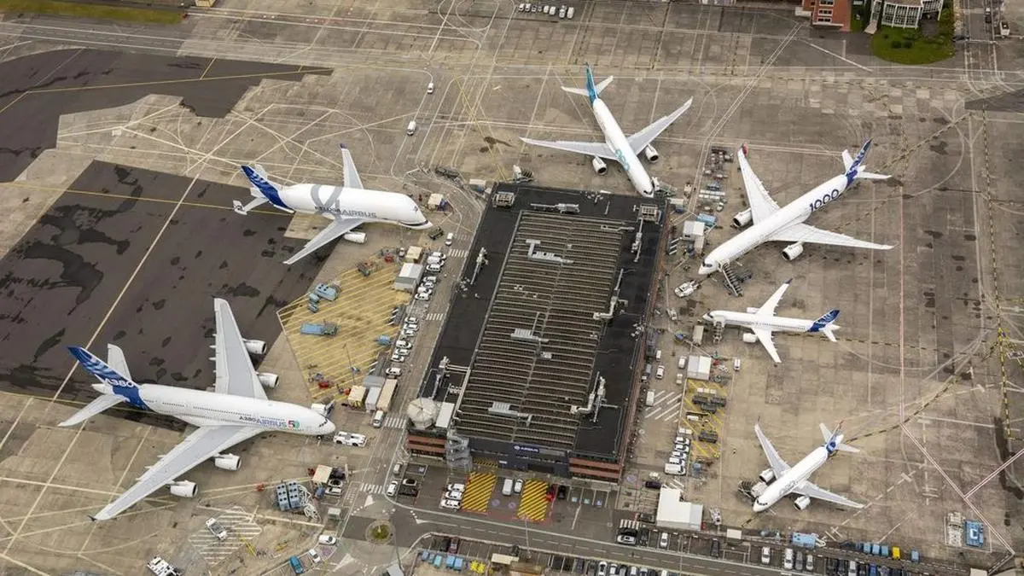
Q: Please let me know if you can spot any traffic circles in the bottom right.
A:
No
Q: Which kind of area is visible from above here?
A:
airport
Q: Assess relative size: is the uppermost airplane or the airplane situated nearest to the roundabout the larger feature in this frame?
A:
the airplane situated nearest to the roundabout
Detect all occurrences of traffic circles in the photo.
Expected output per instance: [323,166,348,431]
[364,519,396,546]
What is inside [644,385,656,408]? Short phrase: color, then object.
white vehicle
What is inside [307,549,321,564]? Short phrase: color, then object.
white car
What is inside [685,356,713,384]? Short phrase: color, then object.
white tent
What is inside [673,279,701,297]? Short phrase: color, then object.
white work vehicle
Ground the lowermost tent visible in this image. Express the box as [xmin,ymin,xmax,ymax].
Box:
[656,490,704,533]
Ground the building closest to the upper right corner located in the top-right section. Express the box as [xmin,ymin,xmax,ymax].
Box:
[882,0,948,33]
